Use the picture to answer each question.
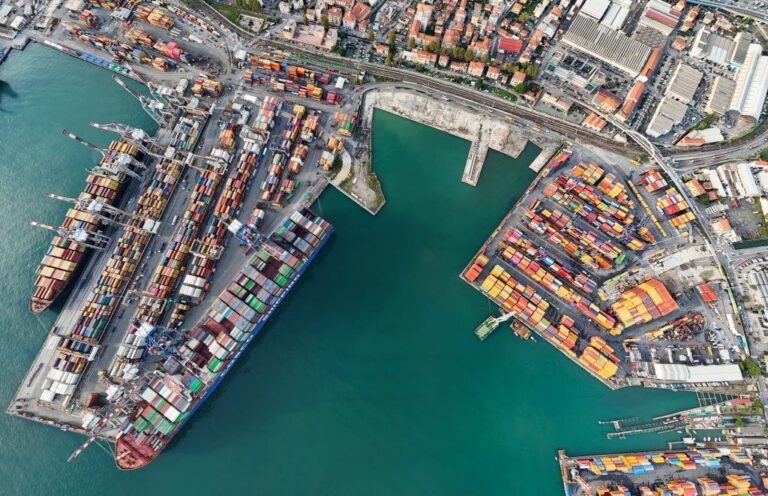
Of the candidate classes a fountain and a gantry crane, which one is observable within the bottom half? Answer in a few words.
gantry crane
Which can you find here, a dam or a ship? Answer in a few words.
ship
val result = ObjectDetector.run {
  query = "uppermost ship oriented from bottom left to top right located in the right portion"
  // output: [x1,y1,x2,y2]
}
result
[475,310,518,340]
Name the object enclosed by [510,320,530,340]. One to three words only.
ship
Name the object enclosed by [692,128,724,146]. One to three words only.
building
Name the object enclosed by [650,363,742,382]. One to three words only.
building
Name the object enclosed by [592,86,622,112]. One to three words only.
house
